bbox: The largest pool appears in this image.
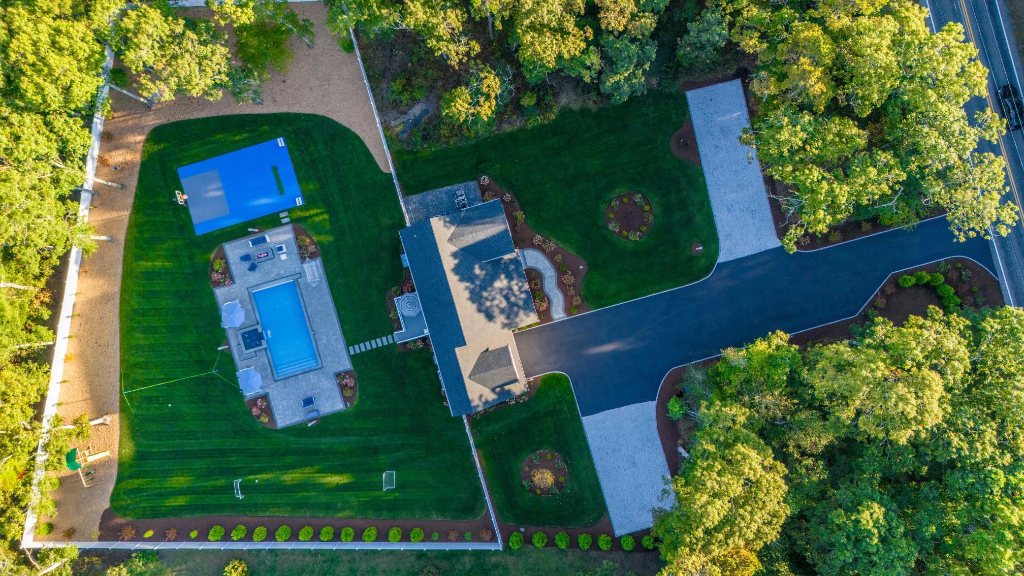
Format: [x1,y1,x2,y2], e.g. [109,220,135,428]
[246,272,324,384]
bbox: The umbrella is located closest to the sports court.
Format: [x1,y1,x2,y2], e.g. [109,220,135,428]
[224,303,246,326]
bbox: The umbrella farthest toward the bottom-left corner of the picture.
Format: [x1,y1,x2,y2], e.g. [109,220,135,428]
[241,369,264,391]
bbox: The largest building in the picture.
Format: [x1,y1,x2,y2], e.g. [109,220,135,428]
[398,196,537,416]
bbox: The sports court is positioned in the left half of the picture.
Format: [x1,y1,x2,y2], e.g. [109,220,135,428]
[177,137,304,235]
